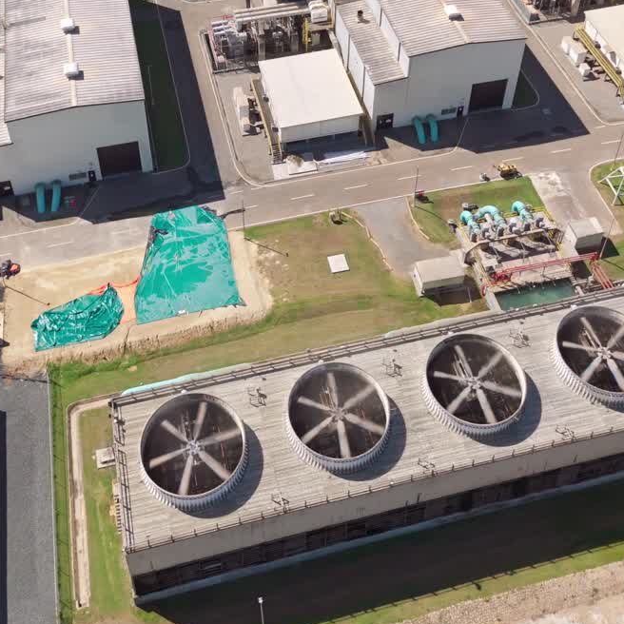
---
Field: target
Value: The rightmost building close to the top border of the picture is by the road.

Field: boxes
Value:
[571,0,624,103]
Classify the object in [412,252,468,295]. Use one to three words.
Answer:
shed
